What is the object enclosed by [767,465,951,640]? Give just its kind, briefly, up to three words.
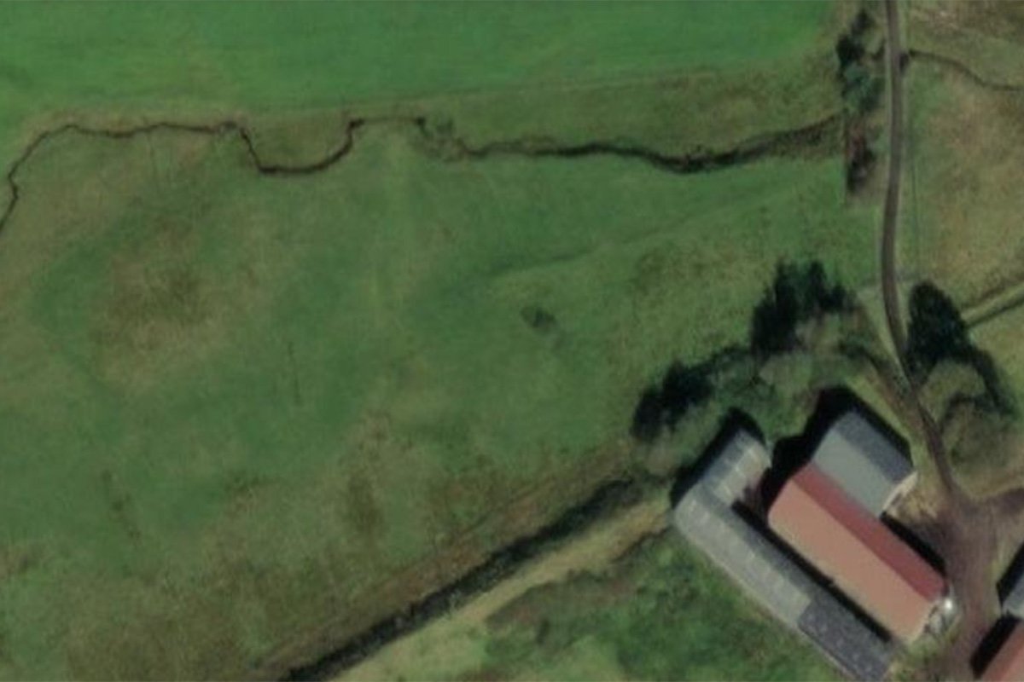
barn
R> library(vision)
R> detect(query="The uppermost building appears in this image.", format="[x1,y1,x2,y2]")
[811,414,918,519]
